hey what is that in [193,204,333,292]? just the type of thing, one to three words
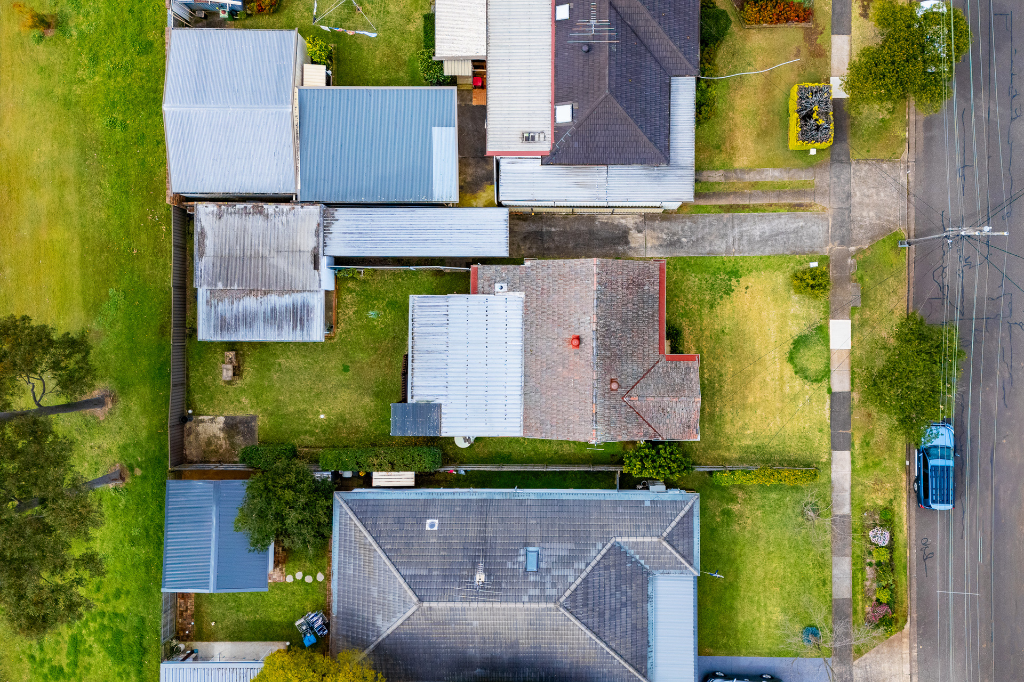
building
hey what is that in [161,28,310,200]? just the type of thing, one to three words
shed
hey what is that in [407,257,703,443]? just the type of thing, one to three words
house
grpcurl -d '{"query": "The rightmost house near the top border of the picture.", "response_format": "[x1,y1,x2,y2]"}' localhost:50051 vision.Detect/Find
[485,0,701,204]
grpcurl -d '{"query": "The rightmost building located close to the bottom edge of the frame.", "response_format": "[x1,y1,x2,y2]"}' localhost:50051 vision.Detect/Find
[332,486,700,682]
